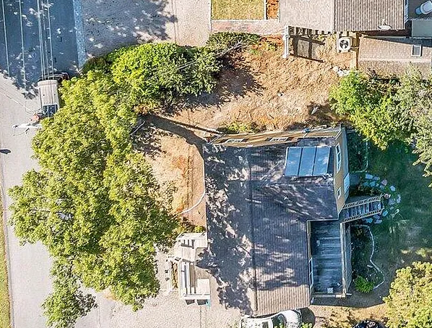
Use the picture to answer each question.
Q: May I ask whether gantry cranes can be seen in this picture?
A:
No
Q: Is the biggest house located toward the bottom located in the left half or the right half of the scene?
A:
right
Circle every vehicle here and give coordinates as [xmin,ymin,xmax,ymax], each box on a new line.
[34,61,74,126]
[358,319,386,328]
[237,302,308,328]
